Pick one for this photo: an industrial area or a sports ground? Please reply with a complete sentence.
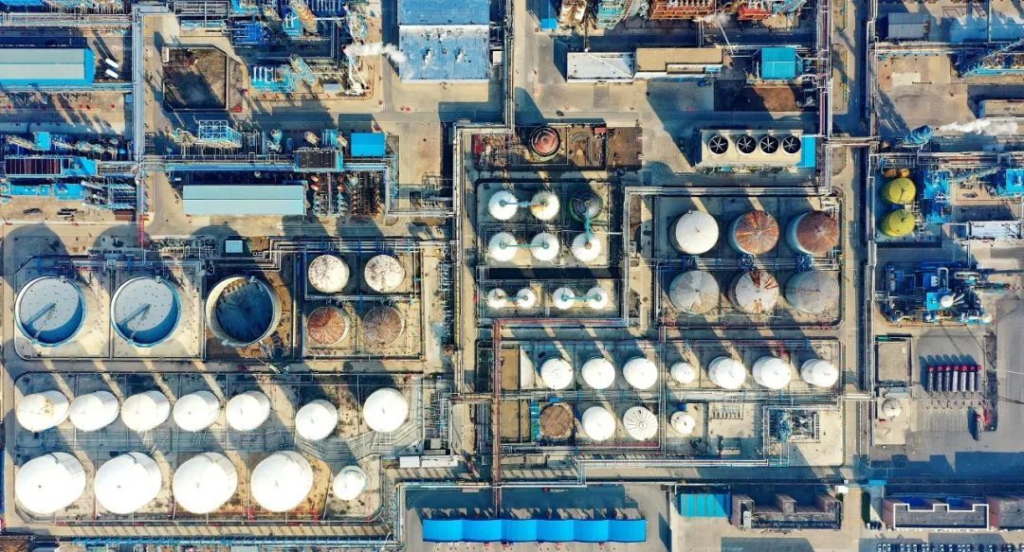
This looks like an industrial area.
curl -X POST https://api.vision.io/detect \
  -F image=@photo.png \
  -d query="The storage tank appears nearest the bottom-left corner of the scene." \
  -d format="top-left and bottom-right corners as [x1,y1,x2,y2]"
[13,452,87,515]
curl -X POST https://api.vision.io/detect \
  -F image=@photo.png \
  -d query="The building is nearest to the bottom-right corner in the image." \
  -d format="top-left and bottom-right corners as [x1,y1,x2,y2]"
[990,496,1024,528]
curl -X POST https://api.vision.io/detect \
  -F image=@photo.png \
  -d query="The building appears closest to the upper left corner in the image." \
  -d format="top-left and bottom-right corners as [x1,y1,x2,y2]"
[0,46,93,85]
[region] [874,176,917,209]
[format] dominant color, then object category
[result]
yellow storage tank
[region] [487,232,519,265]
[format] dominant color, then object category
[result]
white storage tank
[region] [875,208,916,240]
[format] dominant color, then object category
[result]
yellow storage tank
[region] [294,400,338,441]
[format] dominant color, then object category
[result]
white storage tank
